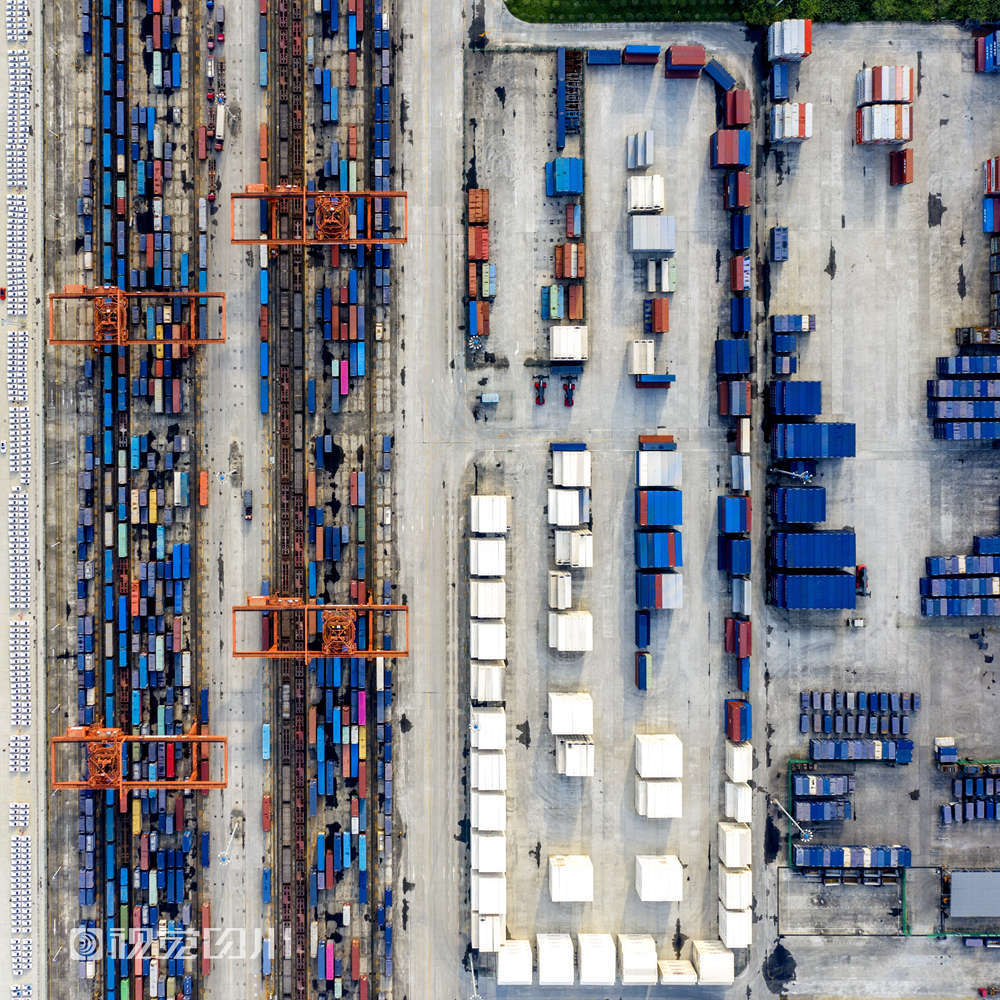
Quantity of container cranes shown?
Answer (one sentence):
Looking from above, you can make out 4 container cranes.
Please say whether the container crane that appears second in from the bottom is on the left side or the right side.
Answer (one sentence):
The container crane that appears second in from the bottom is on the left side of the image.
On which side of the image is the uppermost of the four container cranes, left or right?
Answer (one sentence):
The uppermost of the four container cranes sits on the left side.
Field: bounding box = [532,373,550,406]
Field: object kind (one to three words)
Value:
work vehicle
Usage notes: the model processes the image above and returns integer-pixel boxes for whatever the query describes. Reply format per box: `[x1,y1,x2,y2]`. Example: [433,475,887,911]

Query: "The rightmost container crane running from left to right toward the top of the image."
[231,184,407,259]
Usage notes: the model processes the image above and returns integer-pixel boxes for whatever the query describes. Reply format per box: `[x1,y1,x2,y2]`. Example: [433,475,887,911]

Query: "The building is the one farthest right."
[944,865,1000,917]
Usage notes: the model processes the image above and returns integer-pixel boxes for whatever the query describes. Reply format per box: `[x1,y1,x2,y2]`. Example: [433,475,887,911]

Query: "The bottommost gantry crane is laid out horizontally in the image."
[51,716,229,796]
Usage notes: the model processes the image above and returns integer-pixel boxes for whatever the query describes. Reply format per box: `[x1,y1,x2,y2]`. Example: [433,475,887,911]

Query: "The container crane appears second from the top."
[49,284,227,356]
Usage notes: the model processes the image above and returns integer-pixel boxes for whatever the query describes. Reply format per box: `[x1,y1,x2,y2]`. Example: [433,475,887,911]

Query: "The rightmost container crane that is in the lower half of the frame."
[232,589,409,665]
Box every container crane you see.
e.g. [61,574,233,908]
[49,284,227,356]
[231,184,407,259]
[51,716,229,796]
[232,589,409,665]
